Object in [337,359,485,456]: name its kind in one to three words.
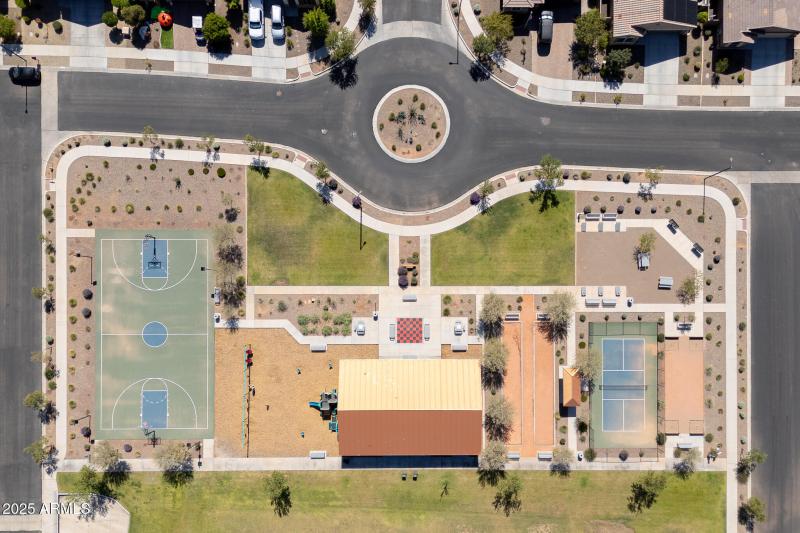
building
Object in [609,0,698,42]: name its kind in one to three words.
house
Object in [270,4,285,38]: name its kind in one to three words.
car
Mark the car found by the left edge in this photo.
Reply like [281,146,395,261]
[9,65,43,84]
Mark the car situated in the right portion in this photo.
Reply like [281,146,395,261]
[539,10,556,45]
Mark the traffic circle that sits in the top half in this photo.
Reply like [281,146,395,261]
[373,84,450,163]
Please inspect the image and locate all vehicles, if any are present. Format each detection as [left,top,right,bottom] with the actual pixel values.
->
[539,10,556,45]
[270,4,285,38]
[247,0,265,39]
[9,65,43,84]
[191,16,206,38]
